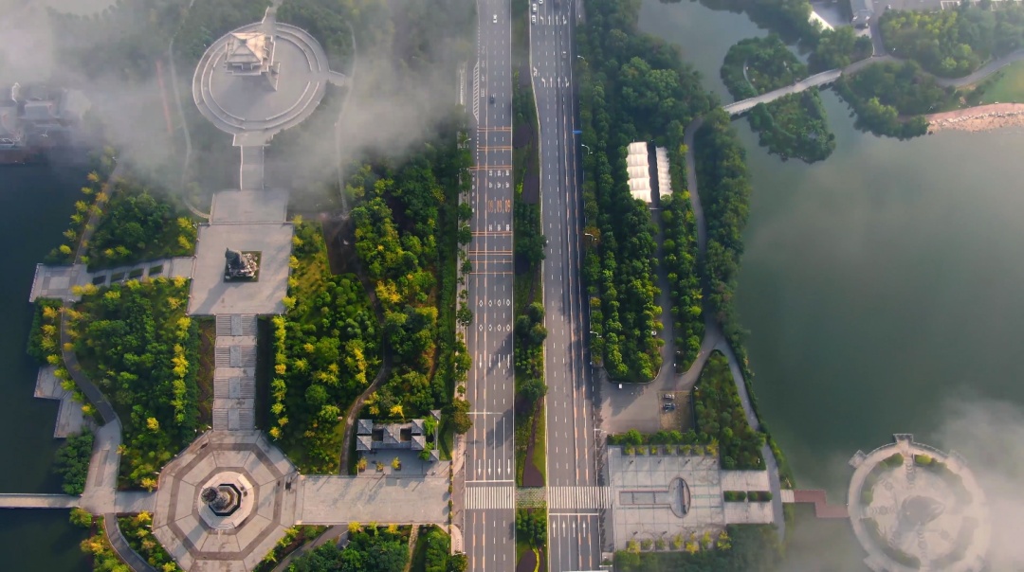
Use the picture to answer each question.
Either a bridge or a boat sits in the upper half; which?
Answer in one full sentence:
What appears in the upper half is a bridge.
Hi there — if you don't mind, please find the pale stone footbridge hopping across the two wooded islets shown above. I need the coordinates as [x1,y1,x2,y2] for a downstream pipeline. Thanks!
[723,65,846,118]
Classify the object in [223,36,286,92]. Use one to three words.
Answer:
building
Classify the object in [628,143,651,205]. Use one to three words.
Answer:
tent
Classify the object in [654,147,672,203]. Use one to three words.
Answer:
tent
